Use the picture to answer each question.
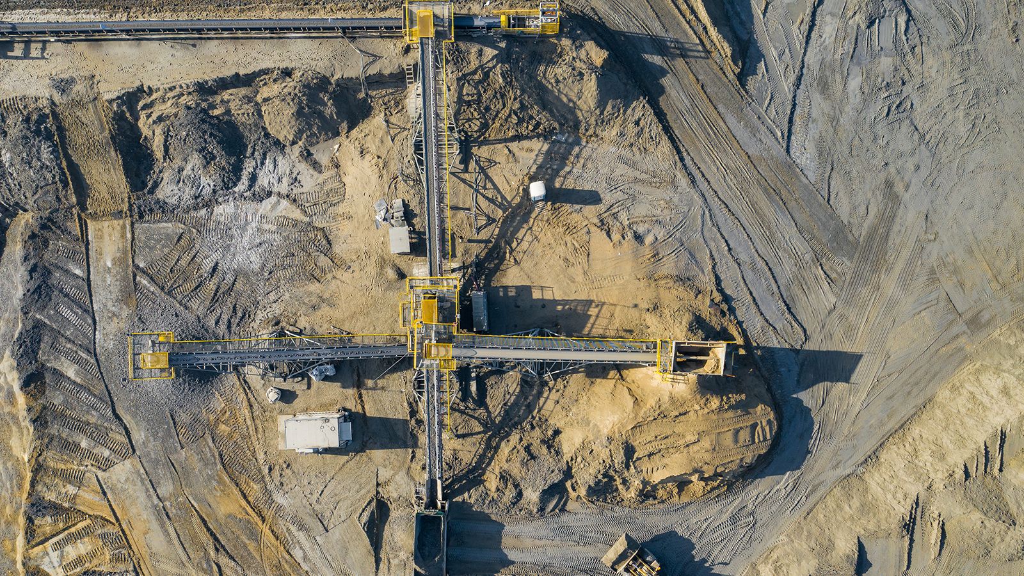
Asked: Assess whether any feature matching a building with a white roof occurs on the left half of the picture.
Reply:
Yes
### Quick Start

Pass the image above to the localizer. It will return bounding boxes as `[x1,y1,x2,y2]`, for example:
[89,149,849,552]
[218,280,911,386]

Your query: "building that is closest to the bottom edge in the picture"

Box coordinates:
[285,412,356,453]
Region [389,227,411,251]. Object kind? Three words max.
building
